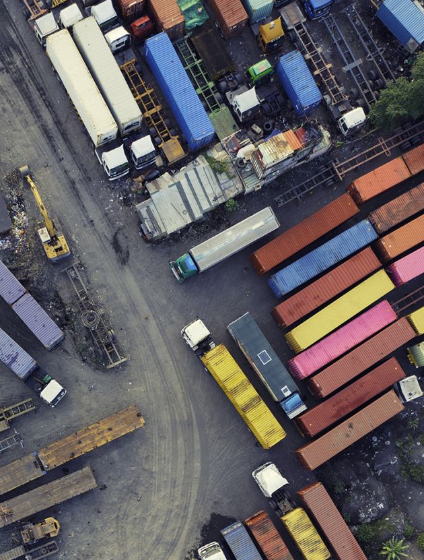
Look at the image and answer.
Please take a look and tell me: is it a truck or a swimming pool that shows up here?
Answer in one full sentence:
Looking from above, you can make out a truck.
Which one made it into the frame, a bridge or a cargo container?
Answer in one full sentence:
Visible in the photo is a cargo container.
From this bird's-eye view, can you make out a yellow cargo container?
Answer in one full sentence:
Yes, the picture does show a yellow cargo container.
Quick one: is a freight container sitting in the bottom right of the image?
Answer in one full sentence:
Yes, the scene does show a freight container in the bottom right of the image.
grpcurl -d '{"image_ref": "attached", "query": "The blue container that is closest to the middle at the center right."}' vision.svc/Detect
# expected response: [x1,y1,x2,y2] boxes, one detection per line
[265,219,377,301]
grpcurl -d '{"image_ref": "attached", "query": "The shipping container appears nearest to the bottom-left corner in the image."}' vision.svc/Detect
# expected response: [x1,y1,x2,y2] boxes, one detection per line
[0,328,39,382]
